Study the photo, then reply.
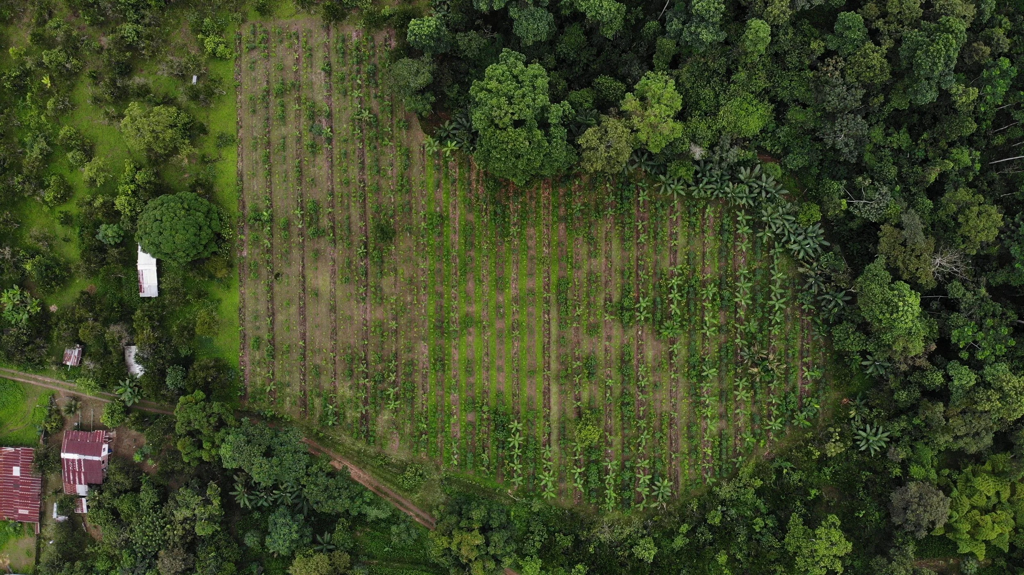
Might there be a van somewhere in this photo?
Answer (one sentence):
No, no van is visible in the scene.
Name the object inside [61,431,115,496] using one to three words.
house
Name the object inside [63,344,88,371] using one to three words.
shed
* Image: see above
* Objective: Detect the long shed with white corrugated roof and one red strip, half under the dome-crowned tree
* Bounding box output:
[136,250,166,297]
